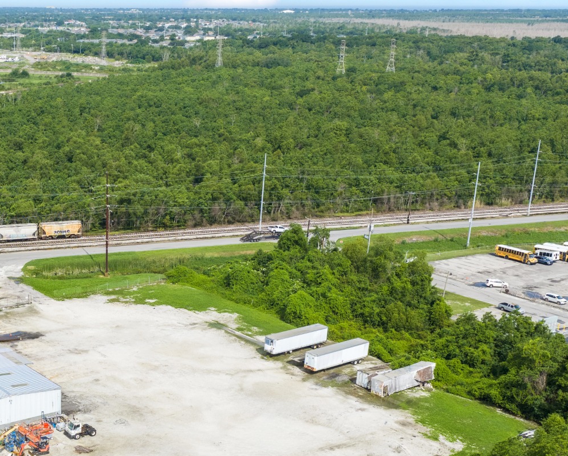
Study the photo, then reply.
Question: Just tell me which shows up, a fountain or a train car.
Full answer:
Visible in the photo is a train car.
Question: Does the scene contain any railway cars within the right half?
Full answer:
No, no railway car is visible within the right half.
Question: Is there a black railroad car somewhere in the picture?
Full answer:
No, I can see no black railroad car in this picture.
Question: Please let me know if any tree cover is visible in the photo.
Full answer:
Yes, the picture does contain tree cover.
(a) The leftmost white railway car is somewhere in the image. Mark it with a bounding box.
[0,223,39,241]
